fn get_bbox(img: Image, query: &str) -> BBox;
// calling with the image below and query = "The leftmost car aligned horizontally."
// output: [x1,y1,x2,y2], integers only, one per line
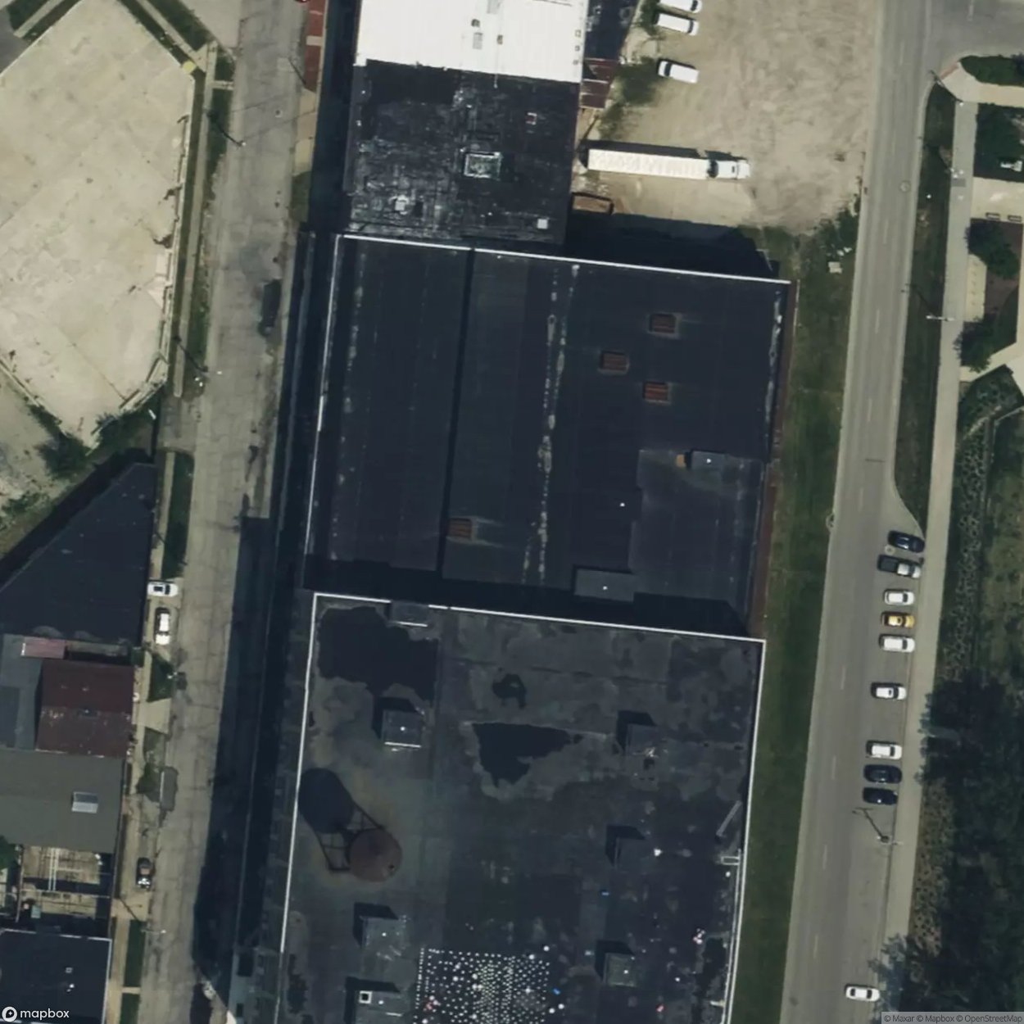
[147,582,180,598]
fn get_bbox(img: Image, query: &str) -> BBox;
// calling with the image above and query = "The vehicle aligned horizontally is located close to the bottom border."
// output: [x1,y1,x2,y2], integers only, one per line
[847,987,880,1003]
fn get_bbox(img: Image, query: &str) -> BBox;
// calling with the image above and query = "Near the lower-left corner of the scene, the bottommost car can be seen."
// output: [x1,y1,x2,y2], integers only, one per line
[137,857,154,890]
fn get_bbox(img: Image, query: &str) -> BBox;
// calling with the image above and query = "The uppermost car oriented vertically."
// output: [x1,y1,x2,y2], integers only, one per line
[154,609,171,645]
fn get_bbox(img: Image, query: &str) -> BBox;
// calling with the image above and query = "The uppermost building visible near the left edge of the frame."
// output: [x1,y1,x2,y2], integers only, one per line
[0,462,156,644]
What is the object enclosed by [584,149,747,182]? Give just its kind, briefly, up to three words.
truck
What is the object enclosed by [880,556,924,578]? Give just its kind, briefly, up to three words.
truck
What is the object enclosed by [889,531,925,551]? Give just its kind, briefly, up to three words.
car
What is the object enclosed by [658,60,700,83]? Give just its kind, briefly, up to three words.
vehicle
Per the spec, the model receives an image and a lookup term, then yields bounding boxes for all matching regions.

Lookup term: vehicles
[889,531,925,551]
[137,857,154,890]
[866,766,902,784]
[873,685,907,701]
[869,743,903,759]
[882,614,914,630]
[659,0,702,16]
[882,637,916,654]
[584,149,747,182]
[880,556,924,578]
[864,789,898,806]
[884,591,916,607]
[658,13,699,36]
[154,609,171,645]
[147,582,180,598]
[658,60,700,83]
[847,987,880,1003]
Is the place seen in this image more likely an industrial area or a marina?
industrial area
